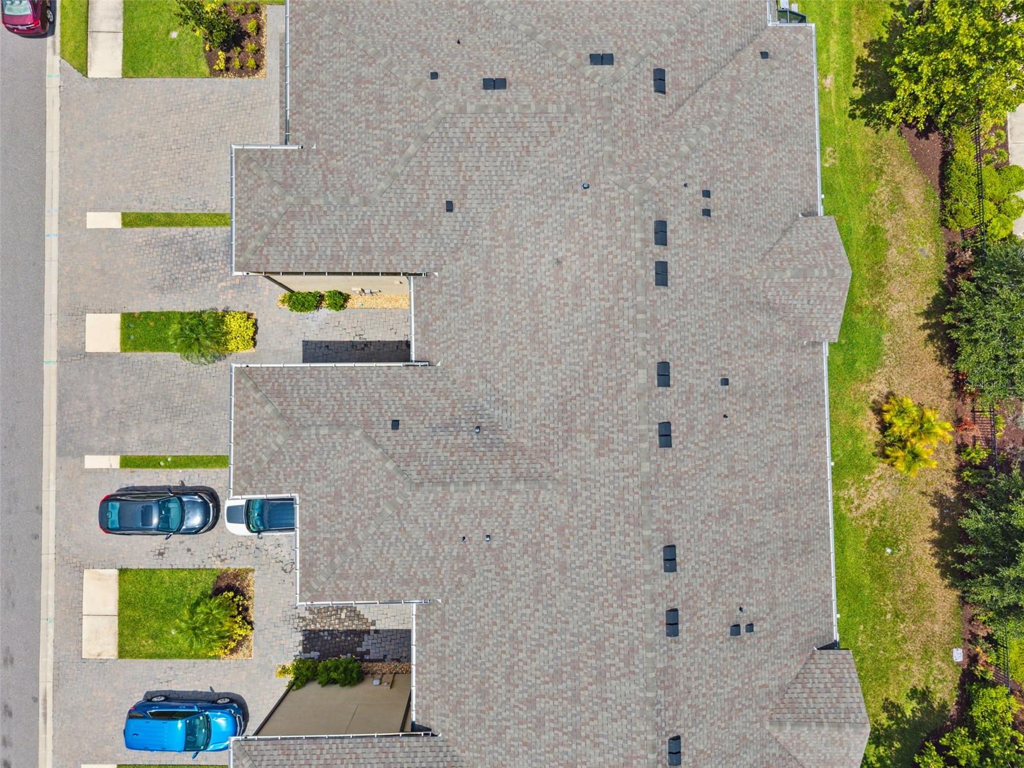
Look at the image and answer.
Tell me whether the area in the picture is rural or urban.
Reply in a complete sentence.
The area shown here is urban.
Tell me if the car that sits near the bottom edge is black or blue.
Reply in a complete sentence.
From above, the car that sits near the bottom edge appears blue.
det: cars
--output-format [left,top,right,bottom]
[98,488,215,544]
[224,496,299,546]
[0,0,55,33]
[125,696,244,761]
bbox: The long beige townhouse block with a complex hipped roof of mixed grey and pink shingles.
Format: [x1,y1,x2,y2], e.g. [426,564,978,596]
[230,0,870,768]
